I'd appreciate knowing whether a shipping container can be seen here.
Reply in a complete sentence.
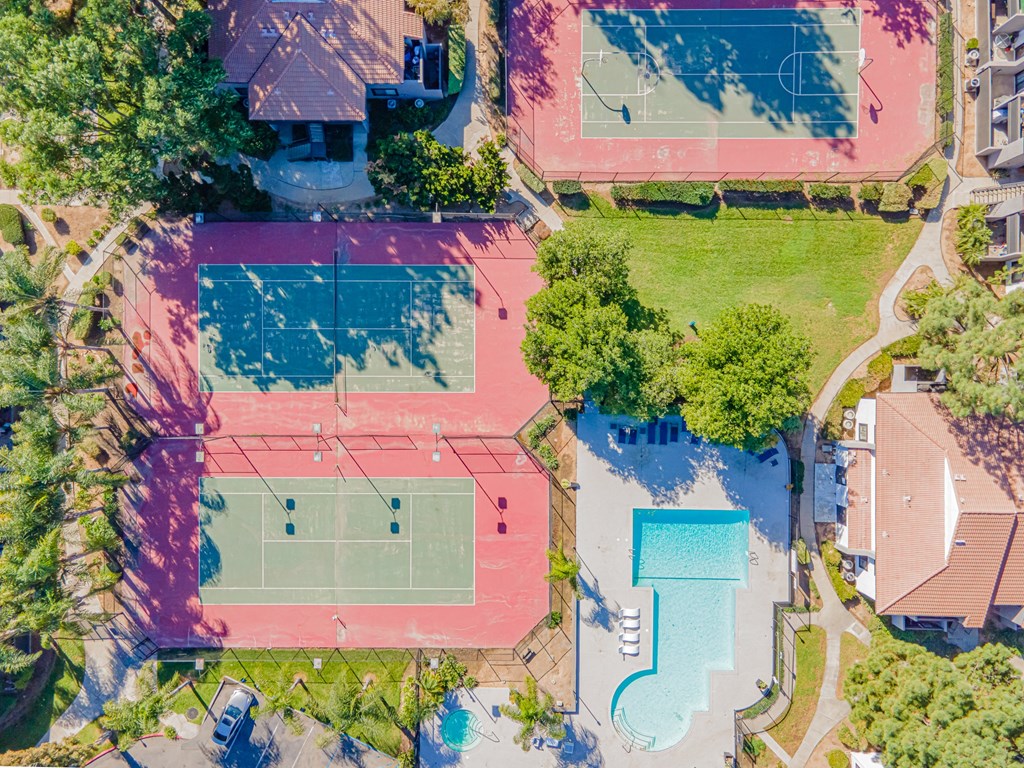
No, this view has no shipping container in it.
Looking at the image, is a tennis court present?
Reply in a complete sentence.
Yes, the image includes a tennis court.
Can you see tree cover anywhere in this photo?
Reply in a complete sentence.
Yes, the picture does contain tree cover.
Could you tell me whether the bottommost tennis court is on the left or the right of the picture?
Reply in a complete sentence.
The bottommost tennis court appears in the left half of the scene.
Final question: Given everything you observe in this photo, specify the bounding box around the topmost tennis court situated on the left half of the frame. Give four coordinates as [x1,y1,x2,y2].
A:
[123,222,551,437]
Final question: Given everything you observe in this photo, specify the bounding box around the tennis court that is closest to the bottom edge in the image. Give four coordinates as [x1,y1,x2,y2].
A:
[121,436,550,648]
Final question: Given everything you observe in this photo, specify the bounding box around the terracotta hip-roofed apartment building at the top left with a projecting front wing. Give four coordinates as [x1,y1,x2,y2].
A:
[208,0,438,162]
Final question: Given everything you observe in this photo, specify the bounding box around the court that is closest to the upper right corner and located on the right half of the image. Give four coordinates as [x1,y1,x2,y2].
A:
[508,0,937,180]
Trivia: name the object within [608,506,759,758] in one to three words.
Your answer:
swimming pool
